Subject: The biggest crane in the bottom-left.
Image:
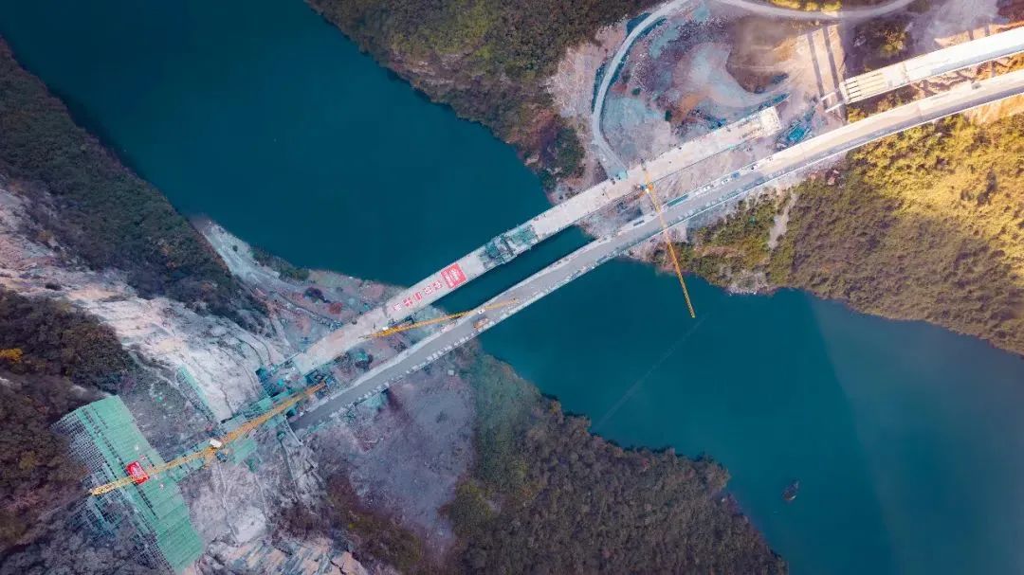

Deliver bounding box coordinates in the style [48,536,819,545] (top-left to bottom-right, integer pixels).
[87,383,326,495]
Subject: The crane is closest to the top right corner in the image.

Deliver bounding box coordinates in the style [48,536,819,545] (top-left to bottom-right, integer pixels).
[617,162,695,318]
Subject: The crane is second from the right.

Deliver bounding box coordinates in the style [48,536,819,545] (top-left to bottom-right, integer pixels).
[360,299,518,341]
